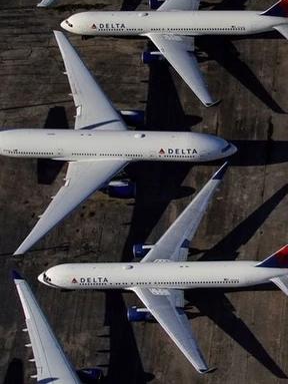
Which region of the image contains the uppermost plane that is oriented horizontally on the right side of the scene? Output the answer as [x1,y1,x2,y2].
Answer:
[59,0,288,105]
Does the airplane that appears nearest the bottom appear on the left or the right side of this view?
left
